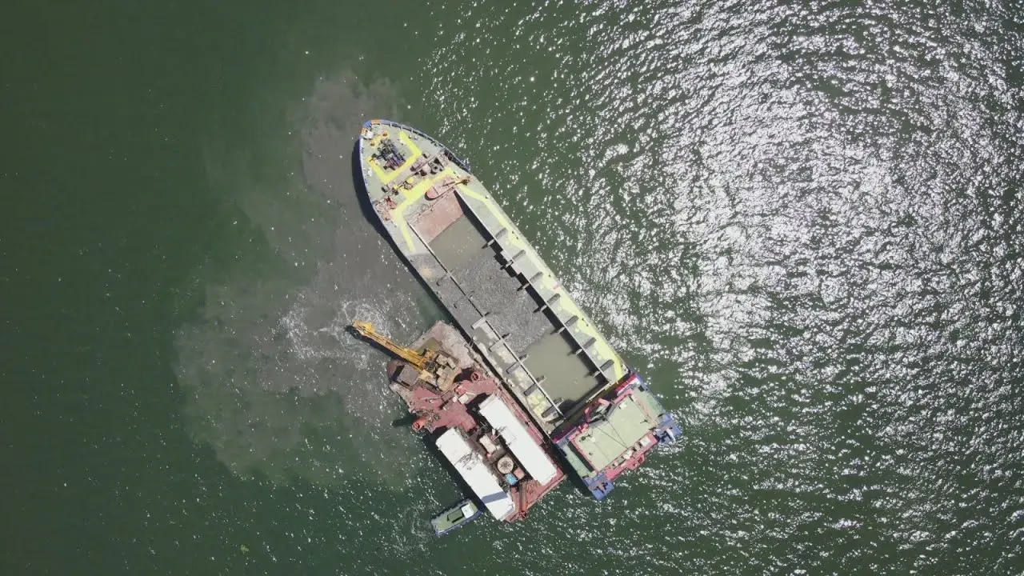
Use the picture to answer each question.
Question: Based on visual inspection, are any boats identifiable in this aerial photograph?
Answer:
Yes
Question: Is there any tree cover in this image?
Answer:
No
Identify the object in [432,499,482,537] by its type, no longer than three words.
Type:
boat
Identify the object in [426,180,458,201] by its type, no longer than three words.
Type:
boat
